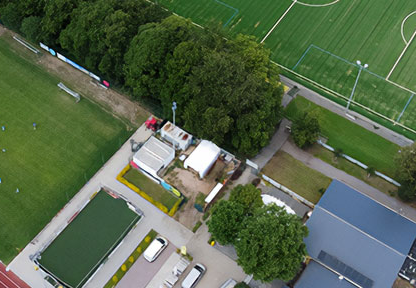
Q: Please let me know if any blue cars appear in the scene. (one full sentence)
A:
No, no blue car is visible in the view.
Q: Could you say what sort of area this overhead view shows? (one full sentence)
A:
It's a sports ground.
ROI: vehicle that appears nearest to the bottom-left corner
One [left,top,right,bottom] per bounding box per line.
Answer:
[144,237,167,261]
